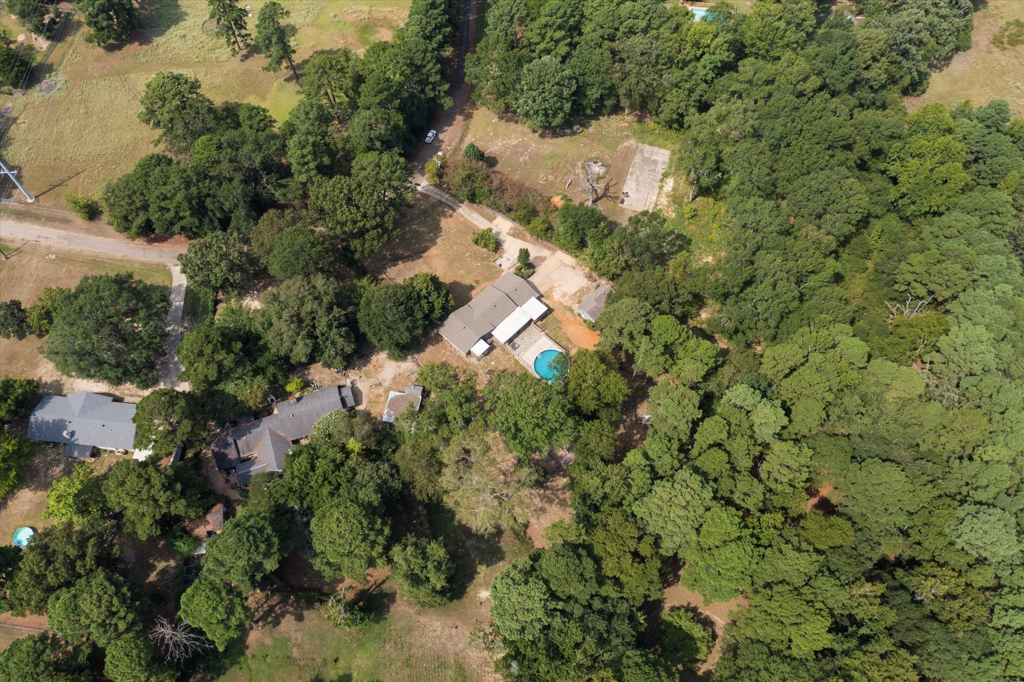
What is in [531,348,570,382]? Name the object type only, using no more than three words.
swimming pool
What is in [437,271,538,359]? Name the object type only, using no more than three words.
house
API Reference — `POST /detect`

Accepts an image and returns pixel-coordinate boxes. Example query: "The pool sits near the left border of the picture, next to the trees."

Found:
[8,526,35,548]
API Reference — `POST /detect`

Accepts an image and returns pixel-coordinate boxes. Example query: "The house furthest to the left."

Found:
[26,391,142,460]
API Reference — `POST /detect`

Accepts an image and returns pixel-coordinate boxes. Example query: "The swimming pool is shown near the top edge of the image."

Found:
[682,1,733,31]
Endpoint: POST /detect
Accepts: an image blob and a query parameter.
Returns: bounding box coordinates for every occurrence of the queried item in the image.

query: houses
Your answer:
[437,271,538,359]
[26,391,142,460]
[211,386,346,488]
